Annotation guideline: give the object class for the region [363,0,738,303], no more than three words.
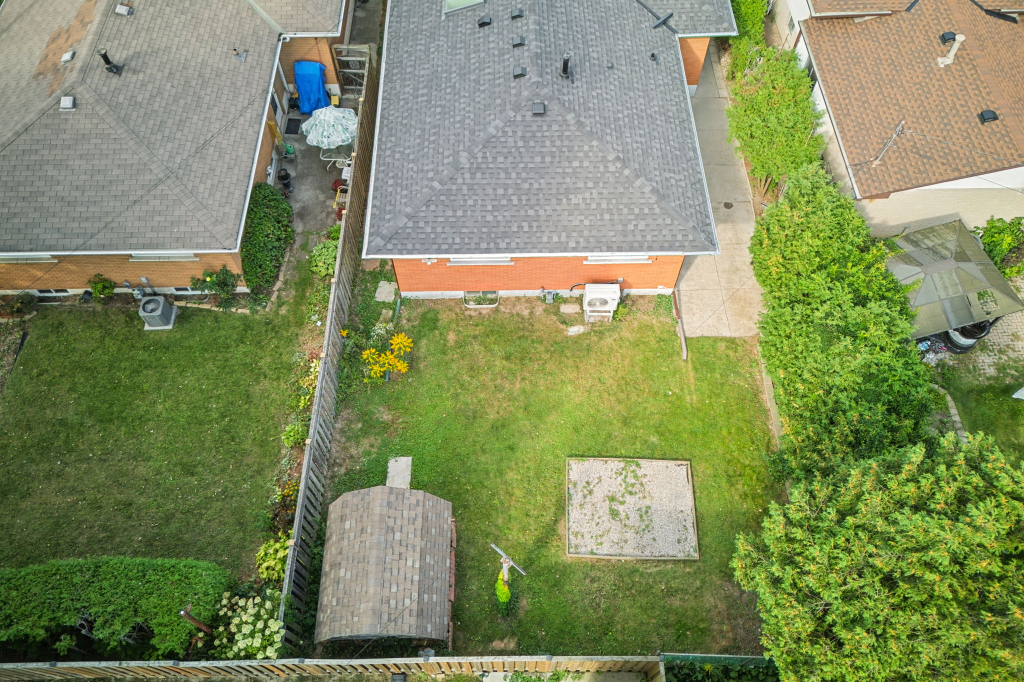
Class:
house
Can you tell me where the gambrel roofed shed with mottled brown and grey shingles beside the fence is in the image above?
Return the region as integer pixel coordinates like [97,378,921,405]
[315,488,453,646]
